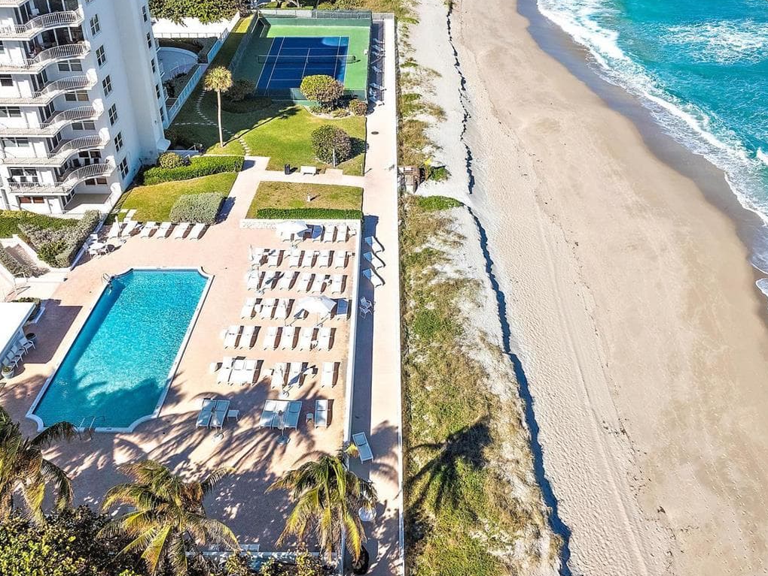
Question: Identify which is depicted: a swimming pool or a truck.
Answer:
swimming pool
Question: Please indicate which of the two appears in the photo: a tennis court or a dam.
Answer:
tennis court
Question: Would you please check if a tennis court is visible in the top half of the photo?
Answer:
Yes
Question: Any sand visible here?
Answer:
Yes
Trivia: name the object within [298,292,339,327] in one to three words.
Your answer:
umbrella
